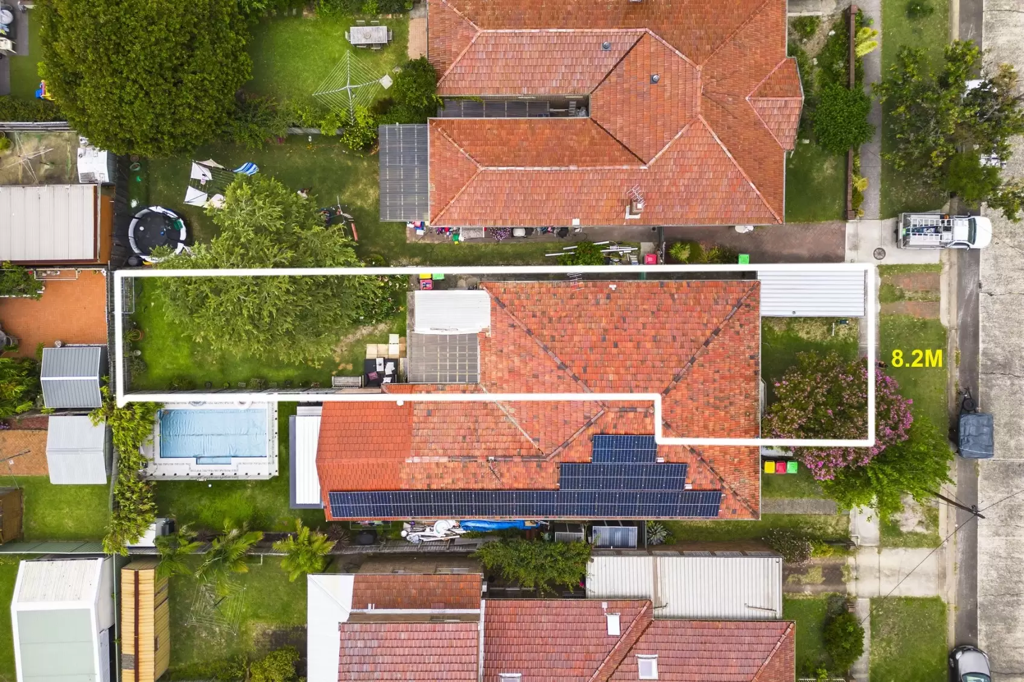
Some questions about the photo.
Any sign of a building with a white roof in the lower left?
Yes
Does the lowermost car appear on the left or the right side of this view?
right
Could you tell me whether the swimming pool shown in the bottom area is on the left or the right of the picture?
left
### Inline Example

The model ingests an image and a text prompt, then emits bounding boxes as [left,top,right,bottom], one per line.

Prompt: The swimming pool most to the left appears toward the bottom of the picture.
[153,400,274,472]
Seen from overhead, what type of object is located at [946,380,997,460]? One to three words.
trailer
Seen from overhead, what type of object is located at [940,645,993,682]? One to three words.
car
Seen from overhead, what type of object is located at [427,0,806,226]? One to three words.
house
